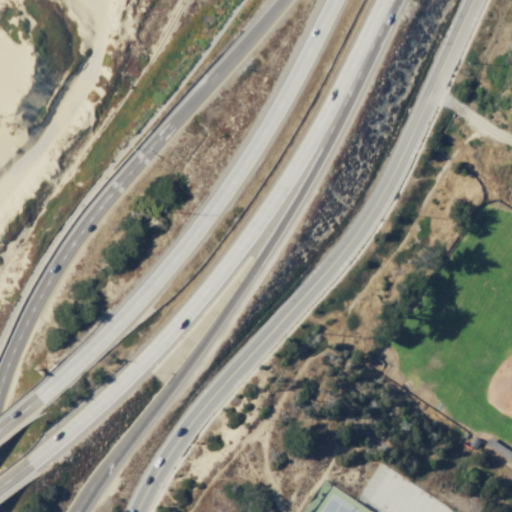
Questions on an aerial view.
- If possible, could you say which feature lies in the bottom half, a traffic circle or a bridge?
bridge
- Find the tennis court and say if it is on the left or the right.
right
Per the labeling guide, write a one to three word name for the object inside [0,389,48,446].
bridge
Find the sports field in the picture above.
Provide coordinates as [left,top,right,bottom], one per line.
[392,204,512,444]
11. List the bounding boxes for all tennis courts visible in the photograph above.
[316,486,372,512]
